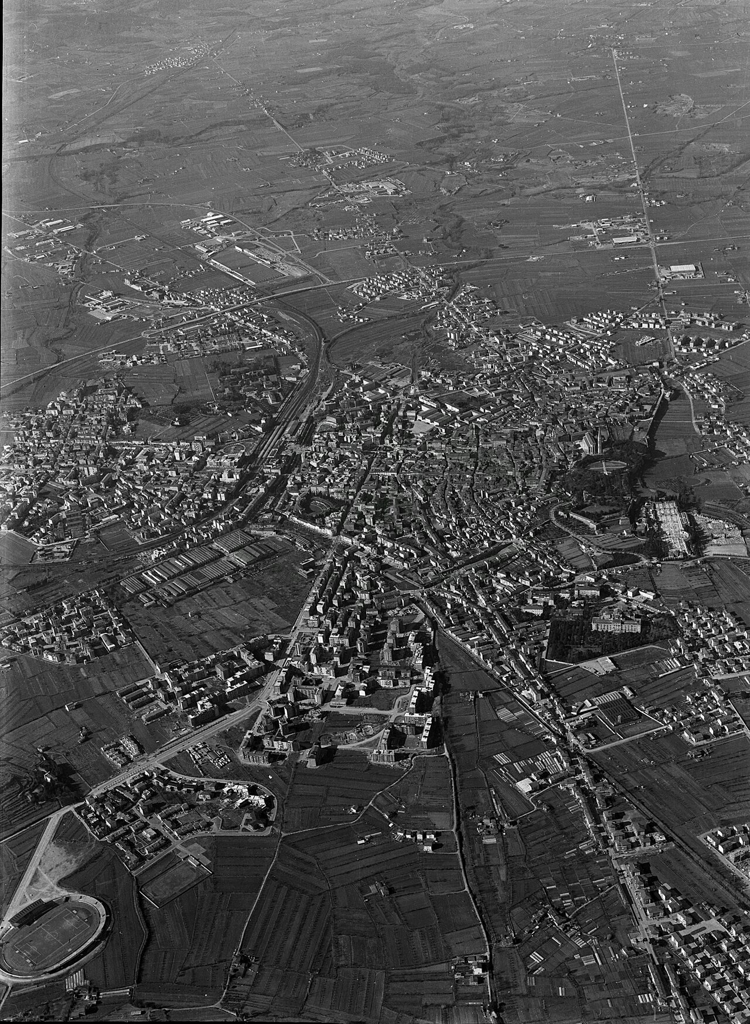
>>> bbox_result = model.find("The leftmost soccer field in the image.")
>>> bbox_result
[11,906,91,966]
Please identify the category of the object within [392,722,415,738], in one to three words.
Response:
building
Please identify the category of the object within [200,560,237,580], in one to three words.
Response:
shed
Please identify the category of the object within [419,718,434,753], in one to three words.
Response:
building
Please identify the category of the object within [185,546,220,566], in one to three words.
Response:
shed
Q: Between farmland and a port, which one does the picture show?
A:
farmland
